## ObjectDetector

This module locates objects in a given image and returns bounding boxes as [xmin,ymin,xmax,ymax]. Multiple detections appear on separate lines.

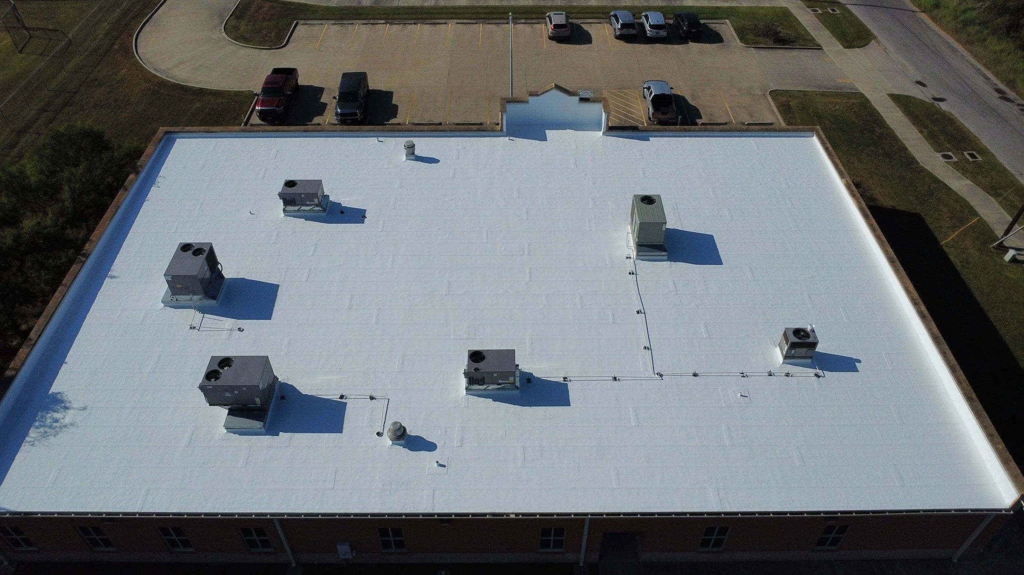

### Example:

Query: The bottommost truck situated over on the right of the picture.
[640,73,678,122]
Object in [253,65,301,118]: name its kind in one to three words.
truck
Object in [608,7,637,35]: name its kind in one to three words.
car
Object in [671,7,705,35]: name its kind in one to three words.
car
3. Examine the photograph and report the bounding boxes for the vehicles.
[671,7,705,35]
[608,7,637,35]
[640,7,669,35]
[253,65,301,118]
[330,72,371,124]
[640,73,678,122]
[545,8,571,36]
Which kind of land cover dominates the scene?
buildings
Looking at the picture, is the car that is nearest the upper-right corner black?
Yes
